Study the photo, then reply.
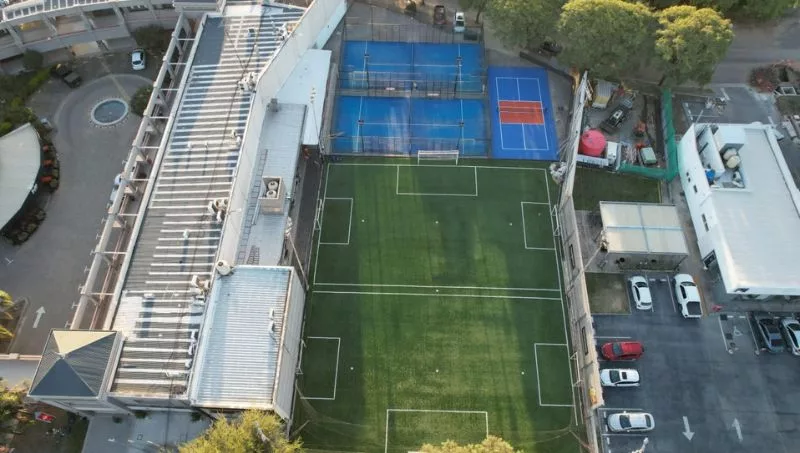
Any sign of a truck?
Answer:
Yes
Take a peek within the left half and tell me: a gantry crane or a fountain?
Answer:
fountain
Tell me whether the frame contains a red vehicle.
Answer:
Yes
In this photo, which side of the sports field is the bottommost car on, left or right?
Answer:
to the right of it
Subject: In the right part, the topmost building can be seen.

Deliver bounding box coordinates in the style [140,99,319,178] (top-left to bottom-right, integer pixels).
[588,82,611,119]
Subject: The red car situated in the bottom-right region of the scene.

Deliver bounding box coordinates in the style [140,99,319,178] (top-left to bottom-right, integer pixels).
[601,338,646,362]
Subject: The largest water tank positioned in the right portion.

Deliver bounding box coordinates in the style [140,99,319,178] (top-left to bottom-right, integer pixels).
[578,134,609,160]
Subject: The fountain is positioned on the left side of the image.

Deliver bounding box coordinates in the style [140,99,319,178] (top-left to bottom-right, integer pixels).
[85,95,134,130]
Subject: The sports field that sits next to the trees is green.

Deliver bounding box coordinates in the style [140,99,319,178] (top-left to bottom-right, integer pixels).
[290,155,588,453]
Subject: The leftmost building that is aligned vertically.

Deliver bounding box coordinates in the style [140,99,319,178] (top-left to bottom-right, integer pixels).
[0,126,52,252]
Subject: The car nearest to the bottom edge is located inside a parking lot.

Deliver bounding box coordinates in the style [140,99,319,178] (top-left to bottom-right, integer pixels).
[605,409,656,434]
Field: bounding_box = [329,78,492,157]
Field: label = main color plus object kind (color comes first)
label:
blue sports court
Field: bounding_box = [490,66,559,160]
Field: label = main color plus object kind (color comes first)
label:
blue sports court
